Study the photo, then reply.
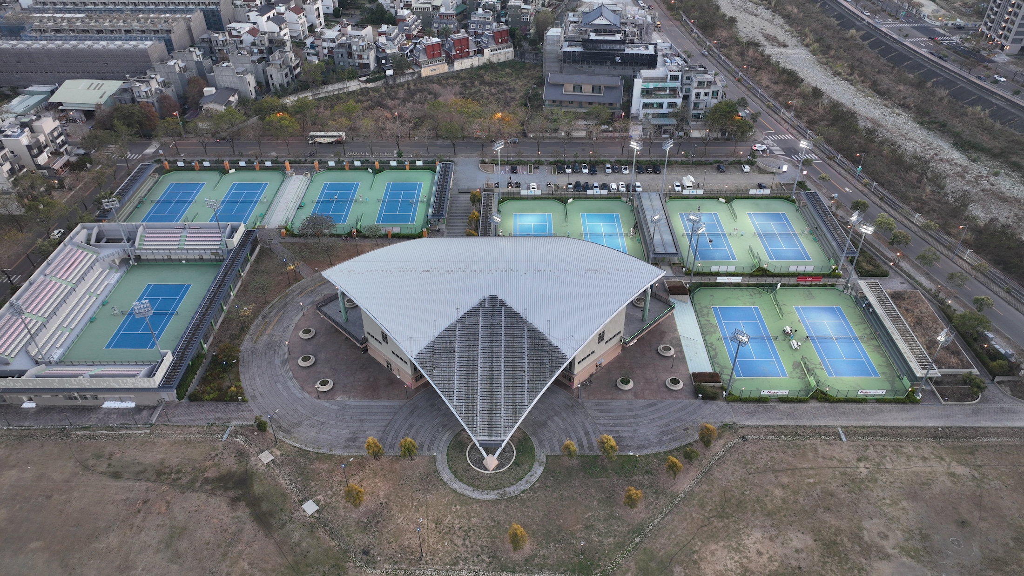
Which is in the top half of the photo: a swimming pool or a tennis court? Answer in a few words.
tennis court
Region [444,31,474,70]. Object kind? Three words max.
house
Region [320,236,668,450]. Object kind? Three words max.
building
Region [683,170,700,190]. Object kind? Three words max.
vehicle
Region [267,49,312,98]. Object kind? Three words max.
house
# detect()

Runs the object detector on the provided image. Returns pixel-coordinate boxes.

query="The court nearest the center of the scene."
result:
[498,199,569,237]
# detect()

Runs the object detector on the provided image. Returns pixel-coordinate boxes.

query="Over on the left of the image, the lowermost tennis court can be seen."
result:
[59,258,227,362]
